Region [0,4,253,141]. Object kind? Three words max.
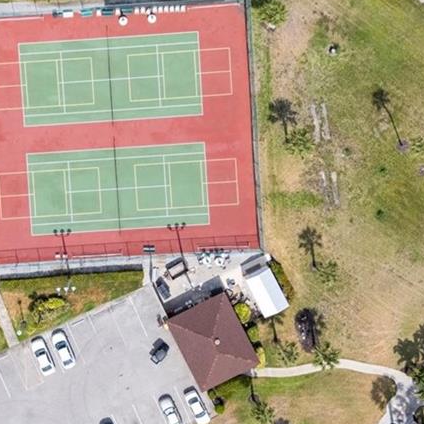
tennis court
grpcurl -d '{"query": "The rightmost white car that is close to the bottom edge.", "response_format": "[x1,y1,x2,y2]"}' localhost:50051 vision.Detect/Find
[184,388,209,424]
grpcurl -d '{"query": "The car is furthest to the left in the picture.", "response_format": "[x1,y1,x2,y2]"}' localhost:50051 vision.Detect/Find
[32,338,56,376]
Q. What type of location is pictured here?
sports ground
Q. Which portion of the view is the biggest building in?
bottom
